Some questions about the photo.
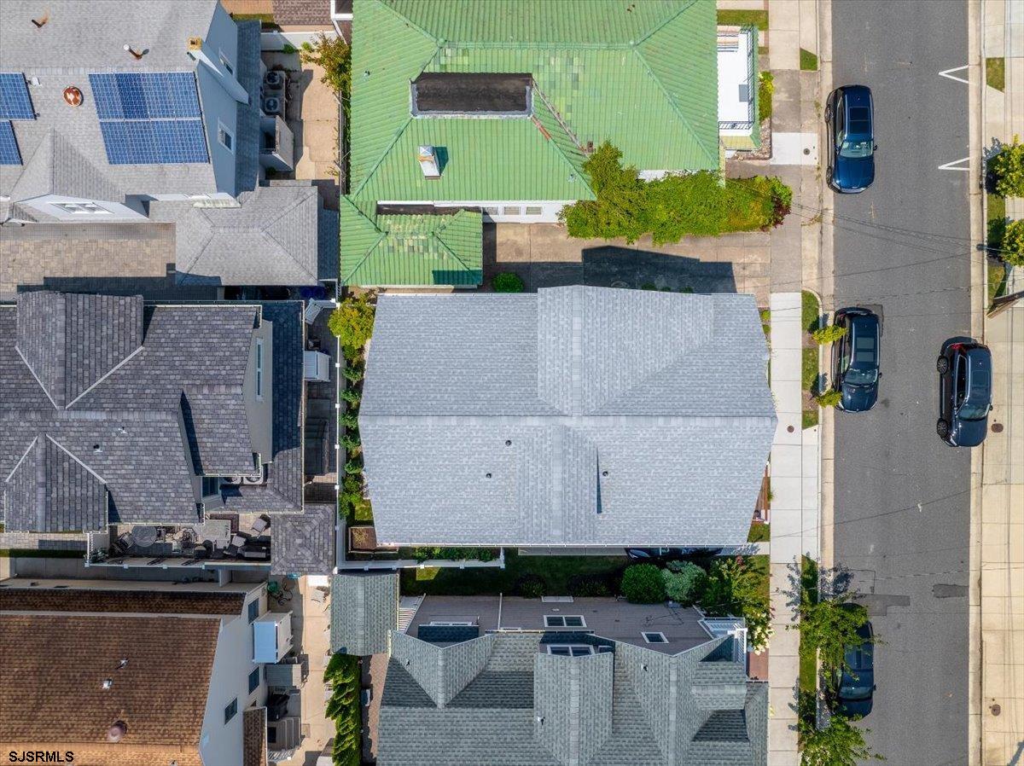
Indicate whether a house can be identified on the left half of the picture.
Yes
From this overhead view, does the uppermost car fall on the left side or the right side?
right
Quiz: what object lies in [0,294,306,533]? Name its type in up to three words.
house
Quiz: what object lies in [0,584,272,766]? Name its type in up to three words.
house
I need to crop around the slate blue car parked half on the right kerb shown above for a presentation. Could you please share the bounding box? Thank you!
[933,346,994,449]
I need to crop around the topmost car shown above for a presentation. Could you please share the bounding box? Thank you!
[821,87,877,197]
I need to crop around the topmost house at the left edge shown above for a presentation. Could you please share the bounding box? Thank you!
[0,0,329,295]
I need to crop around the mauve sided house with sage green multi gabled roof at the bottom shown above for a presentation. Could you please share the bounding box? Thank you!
[376,594,768,766]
